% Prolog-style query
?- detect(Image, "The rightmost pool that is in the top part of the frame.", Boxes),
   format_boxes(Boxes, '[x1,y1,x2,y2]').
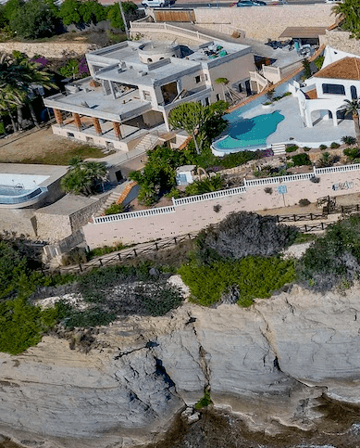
[216,107,288,153]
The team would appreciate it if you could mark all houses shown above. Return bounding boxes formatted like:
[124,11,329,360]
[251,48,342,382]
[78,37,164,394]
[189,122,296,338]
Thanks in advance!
[31,35,267,163]
[297,38,360,130]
